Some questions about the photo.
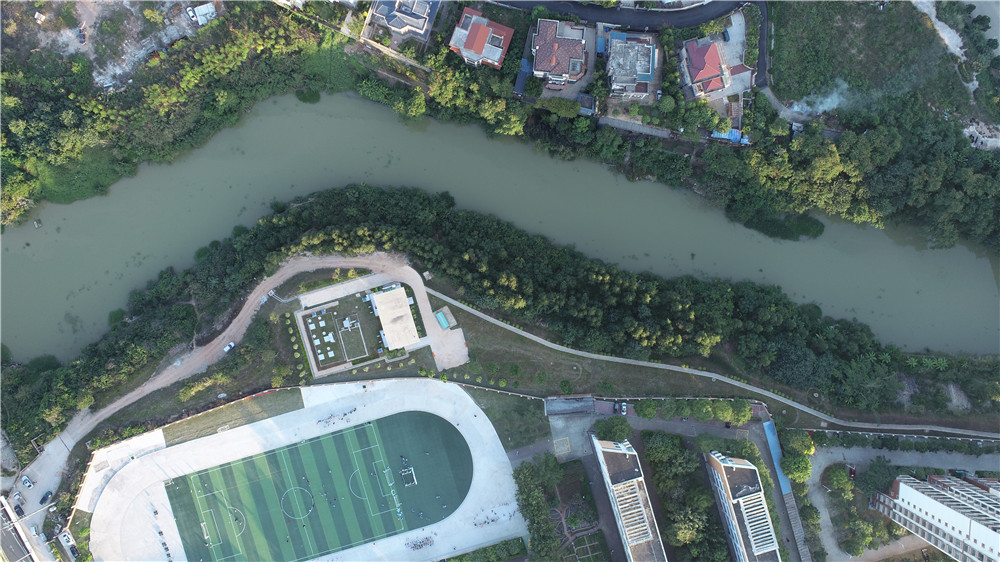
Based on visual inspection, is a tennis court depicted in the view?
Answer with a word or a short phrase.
No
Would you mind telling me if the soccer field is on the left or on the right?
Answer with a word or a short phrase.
left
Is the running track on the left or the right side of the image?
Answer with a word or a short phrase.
left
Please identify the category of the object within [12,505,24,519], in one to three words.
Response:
vehicle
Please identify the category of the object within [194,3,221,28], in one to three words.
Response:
shed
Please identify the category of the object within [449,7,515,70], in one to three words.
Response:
house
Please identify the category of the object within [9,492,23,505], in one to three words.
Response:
vehicle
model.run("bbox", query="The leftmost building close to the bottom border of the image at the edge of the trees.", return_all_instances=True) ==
[593,435,668,562]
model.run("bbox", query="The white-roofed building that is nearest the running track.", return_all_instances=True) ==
[369,285,421,351]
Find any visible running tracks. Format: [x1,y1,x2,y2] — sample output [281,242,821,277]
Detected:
[77,379,528,562]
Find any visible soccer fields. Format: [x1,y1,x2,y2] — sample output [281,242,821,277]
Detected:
[165,411,473,562]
